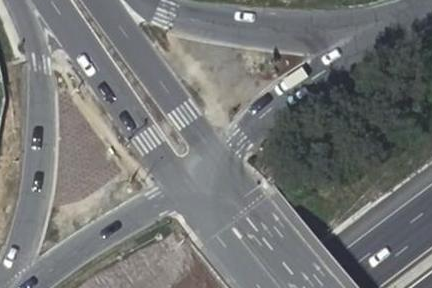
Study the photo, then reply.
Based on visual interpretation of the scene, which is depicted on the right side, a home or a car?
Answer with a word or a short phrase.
car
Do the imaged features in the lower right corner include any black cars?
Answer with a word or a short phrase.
No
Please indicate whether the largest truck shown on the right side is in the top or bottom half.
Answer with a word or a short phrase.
top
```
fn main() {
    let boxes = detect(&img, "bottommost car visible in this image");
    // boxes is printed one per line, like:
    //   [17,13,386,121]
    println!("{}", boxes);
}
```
[16,274,39,288]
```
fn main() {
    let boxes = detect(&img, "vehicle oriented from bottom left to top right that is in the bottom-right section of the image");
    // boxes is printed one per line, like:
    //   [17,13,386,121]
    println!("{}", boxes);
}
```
[369,246,392,266]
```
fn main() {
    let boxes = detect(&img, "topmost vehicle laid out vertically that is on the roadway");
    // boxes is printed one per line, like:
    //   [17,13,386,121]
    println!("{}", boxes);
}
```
[30,124,42,149]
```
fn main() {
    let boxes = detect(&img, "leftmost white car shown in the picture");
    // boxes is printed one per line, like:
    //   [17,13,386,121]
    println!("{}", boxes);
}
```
[2,244,19,267]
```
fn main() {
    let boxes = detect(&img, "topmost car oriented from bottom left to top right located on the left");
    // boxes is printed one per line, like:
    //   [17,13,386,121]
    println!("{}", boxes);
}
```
[99,218,122,238]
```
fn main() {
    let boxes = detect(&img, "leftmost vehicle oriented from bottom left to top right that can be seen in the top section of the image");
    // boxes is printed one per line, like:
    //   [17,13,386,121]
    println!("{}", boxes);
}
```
[249,92,273,114]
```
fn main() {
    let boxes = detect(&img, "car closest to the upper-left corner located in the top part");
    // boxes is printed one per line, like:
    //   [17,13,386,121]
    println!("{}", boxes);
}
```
[75,52,96,76]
